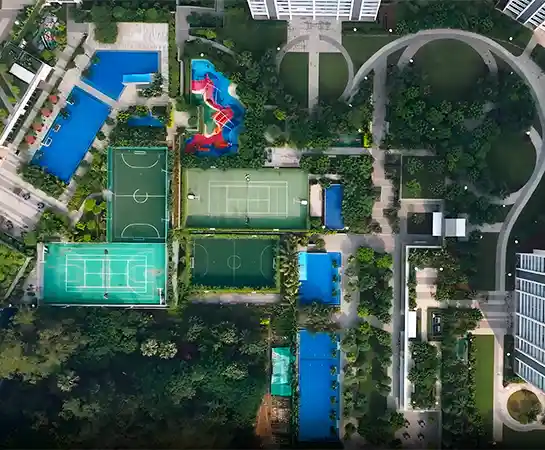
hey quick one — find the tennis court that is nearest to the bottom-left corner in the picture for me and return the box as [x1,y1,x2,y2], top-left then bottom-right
[44,244,166,305]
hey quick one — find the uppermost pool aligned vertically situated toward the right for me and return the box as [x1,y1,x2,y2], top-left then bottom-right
[324,184,343,230]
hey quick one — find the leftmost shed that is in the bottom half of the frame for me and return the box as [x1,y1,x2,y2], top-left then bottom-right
[272,347,291,396]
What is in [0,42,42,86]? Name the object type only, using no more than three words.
house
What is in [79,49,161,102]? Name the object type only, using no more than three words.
swimming pool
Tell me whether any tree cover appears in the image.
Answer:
Yes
